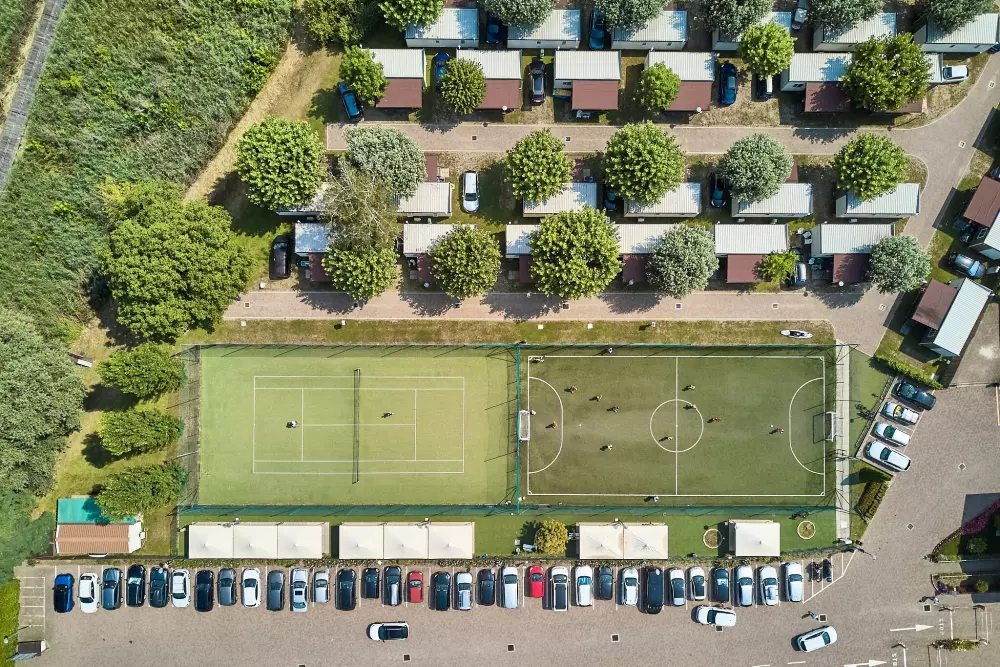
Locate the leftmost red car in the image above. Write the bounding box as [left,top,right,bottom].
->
[407,570,425,603]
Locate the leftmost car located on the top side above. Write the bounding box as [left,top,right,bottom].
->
[270,235,292,278]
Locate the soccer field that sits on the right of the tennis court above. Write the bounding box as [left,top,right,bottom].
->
[518,345,836,506]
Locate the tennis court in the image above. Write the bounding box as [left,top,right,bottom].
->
[199,345,518,506]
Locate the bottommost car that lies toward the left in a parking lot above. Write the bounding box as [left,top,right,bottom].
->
[369,621,408,643]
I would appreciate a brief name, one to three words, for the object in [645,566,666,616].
car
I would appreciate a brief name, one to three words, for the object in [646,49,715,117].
house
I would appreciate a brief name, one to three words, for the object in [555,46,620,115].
house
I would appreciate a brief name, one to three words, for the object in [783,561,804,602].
car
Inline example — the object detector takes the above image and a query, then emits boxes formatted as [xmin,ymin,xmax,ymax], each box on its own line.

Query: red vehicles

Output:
[528,564,546,598]
[407,570,425,603]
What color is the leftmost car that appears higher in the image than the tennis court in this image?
black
